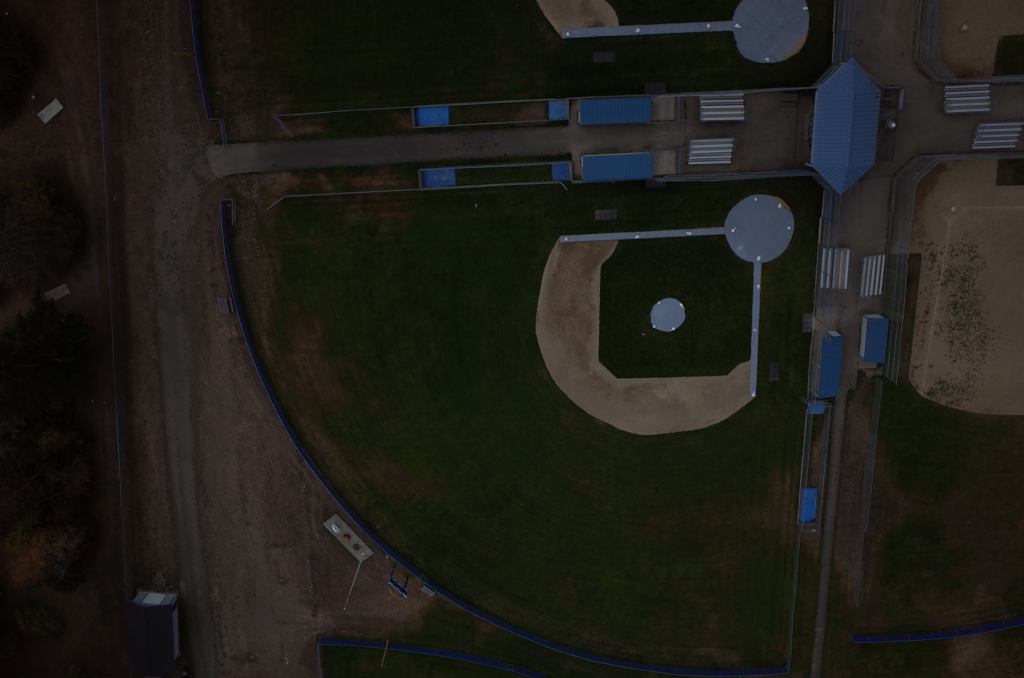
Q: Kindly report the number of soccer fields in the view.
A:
0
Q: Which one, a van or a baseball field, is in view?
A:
baseball field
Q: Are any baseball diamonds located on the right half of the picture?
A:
Yes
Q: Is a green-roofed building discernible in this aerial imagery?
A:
No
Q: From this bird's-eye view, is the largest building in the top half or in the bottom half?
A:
top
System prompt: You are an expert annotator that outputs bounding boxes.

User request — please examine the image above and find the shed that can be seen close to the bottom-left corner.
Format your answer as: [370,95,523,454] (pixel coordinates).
[125,592,180,677]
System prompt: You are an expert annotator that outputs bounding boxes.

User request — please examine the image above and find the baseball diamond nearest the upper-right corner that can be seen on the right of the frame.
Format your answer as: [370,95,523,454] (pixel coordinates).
[916,0,1024,81]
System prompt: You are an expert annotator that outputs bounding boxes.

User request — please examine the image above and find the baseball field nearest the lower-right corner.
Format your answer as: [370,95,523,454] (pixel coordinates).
[850,151,1024,636]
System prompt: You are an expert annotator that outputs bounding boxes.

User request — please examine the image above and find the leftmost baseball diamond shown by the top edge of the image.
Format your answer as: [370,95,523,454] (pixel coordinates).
[195,0,834,144]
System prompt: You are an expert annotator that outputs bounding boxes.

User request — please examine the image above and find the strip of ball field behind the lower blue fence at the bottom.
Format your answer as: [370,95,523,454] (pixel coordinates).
[319,641,530,678]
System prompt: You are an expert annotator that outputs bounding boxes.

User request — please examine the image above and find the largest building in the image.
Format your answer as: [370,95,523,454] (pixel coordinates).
[807,56,882,196]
